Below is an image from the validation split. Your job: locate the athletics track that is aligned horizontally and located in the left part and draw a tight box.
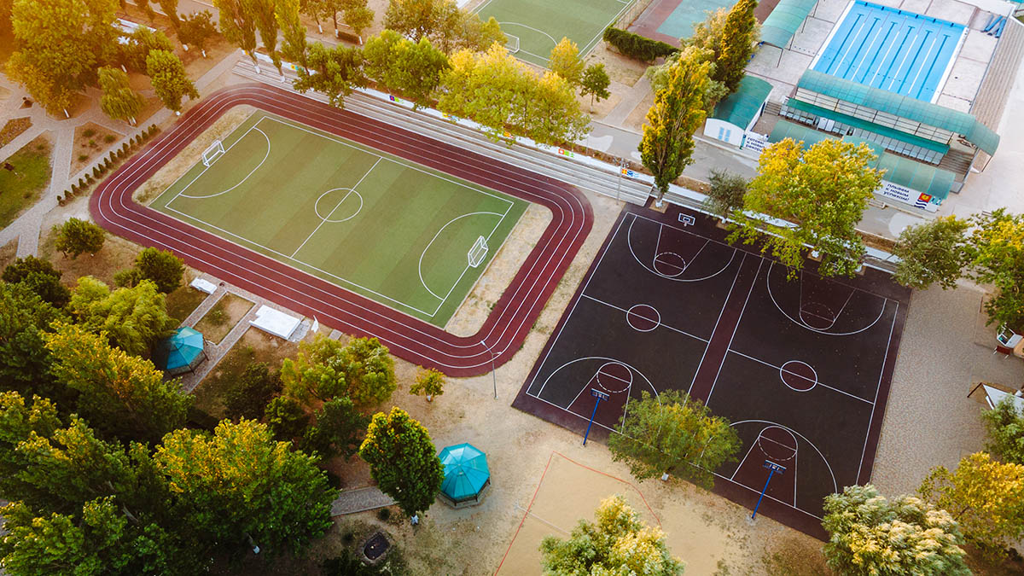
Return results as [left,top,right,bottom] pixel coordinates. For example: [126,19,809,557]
[93,82,591,378]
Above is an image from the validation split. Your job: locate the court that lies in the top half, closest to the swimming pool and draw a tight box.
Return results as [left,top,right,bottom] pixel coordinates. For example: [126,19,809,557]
[629,0,779,71]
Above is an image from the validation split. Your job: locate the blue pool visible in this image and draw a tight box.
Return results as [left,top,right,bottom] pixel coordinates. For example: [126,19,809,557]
[800,0,973,107]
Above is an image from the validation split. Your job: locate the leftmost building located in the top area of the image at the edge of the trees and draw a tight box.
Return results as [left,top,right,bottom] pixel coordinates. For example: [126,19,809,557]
[703,75,771,148]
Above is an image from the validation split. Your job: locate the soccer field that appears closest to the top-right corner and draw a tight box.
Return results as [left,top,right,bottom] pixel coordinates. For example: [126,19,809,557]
[444,0,639,74]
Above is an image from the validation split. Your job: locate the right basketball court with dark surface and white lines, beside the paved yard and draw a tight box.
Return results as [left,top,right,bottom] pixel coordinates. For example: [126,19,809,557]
[685,258,898,517]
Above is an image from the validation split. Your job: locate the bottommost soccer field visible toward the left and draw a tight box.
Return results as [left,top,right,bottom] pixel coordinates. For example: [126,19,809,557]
[146,107,533,332]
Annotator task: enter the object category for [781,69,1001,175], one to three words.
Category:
building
